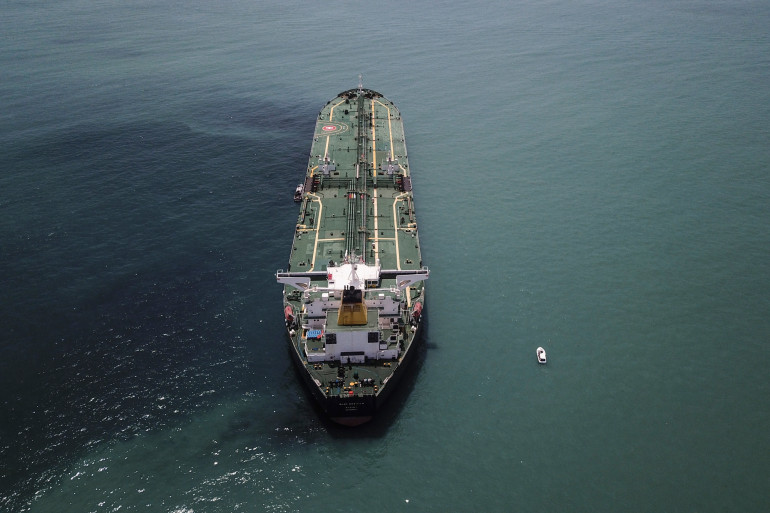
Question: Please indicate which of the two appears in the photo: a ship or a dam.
ship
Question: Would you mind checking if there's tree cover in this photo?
No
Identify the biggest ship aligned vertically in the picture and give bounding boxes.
[272,77,433,425]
